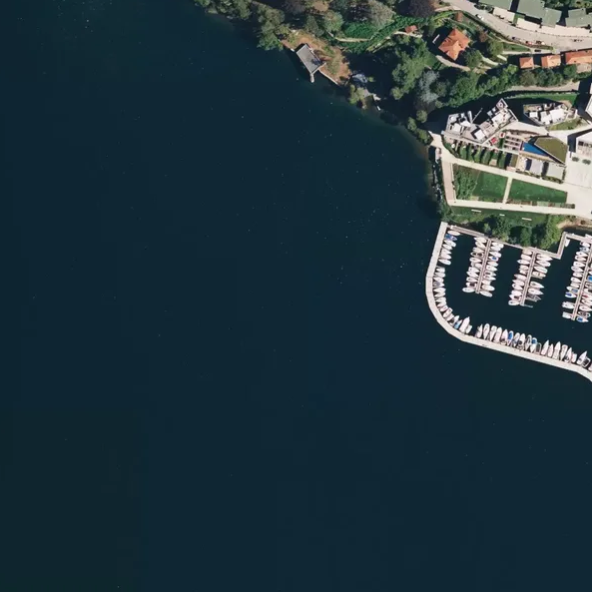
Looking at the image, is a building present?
Yes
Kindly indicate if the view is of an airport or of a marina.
marina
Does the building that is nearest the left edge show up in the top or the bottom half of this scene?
top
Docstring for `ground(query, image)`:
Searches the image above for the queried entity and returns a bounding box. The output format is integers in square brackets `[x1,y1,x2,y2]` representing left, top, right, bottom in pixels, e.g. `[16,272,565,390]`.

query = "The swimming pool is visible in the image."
[524,143,546,156]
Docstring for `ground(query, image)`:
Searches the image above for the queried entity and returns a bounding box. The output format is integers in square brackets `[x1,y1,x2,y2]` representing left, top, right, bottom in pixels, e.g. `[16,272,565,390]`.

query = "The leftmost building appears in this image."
[294,44,322,74]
